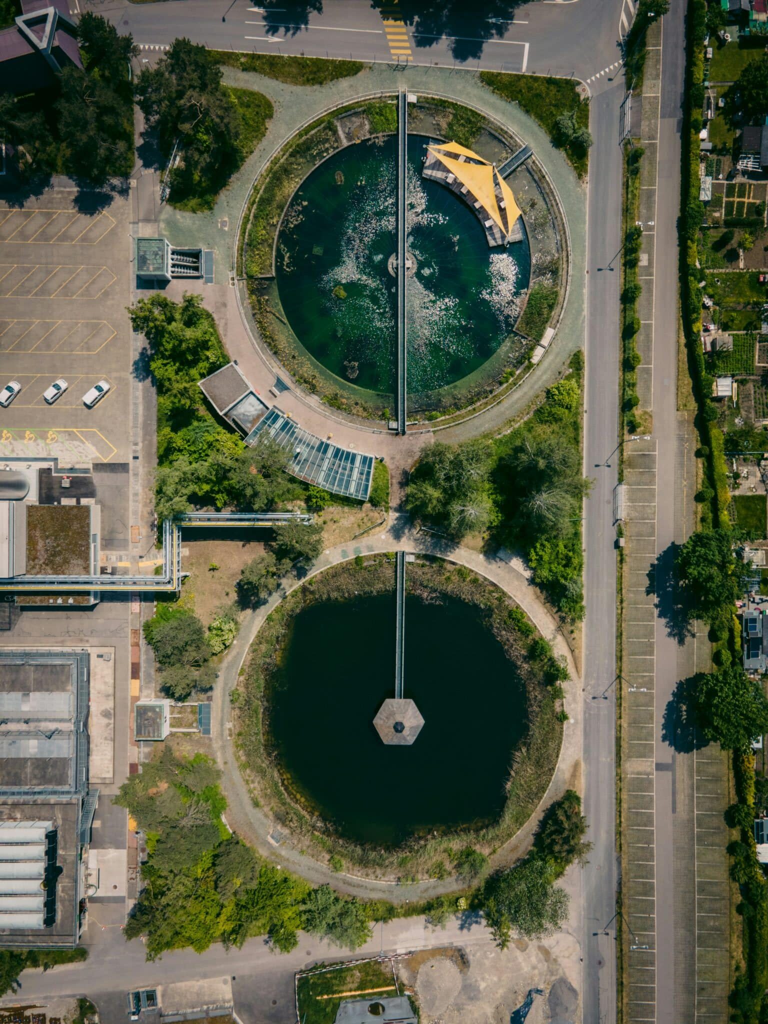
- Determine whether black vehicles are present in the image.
No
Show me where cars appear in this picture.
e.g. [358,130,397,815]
[41,378,66,405]
[0,380,20,407]
[80,381,107,408]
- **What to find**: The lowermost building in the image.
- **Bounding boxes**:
[335,987,425,1024]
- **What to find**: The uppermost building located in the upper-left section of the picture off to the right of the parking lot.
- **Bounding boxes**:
[137,238,172,281]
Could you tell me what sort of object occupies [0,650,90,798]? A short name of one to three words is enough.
building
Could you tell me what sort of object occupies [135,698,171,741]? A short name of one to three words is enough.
building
